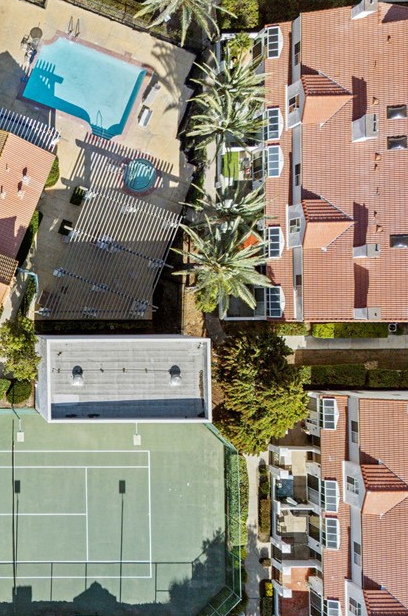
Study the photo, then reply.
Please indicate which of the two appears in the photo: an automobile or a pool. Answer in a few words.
pool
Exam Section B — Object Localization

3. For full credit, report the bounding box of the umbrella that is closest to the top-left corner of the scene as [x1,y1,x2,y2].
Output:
[26,26,43,45]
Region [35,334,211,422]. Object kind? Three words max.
building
